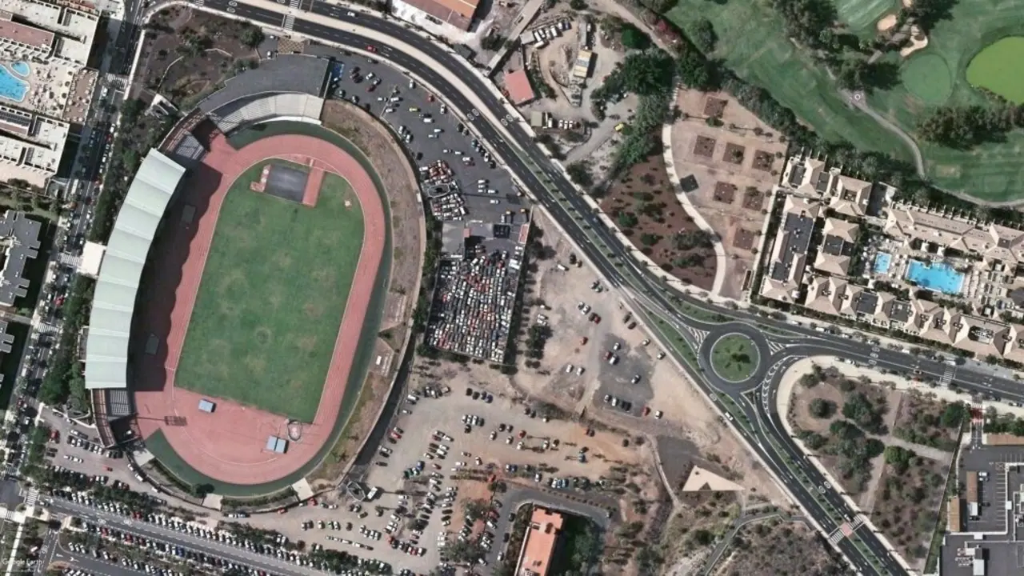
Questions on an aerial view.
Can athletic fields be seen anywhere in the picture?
Yes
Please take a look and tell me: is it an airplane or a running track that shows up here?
running track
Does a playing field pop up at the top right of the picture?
No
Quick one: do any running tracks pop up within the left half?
Yes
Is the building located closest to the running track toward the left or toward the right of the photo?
left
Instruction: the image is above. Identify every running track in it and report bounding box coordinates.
[134,129,385,484]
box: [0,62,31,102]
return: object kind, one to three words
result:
swimming pool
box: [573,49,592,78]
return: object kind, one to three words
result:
building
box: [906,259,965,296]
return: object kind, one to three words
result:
swimming pool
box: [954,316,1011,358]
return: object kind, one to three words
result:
house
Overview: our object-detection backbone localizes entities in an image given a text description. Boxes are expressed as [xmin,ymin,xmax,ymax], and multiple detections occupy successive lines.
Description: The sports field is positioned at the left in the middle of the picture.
[174,155,365,423]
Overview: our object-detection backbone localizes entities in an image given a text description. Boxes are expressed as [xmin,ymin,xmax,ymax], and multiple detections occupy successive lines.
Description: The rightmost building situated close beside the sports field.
[196,53,329,115]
